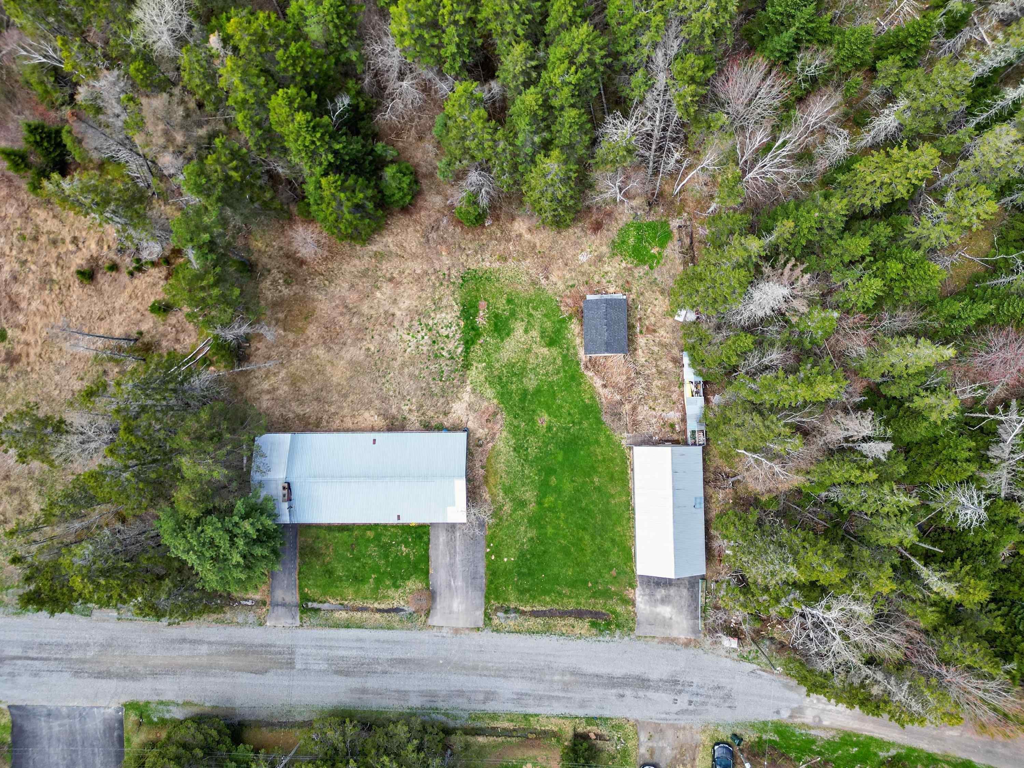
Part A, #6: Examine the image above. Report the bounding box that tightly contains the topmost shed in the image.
[583,294,628,360]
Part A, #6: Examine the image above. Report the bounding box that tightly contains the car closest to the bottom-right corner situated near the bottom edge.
[710,738,736,768]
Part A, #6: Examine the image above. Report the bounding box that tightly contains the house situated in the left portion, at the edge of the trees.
[249,429,472,524]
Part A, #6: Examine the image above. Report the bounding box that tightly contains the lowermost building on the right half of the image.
[630,446,706,579]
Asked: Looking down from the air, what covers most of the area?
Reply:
trees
